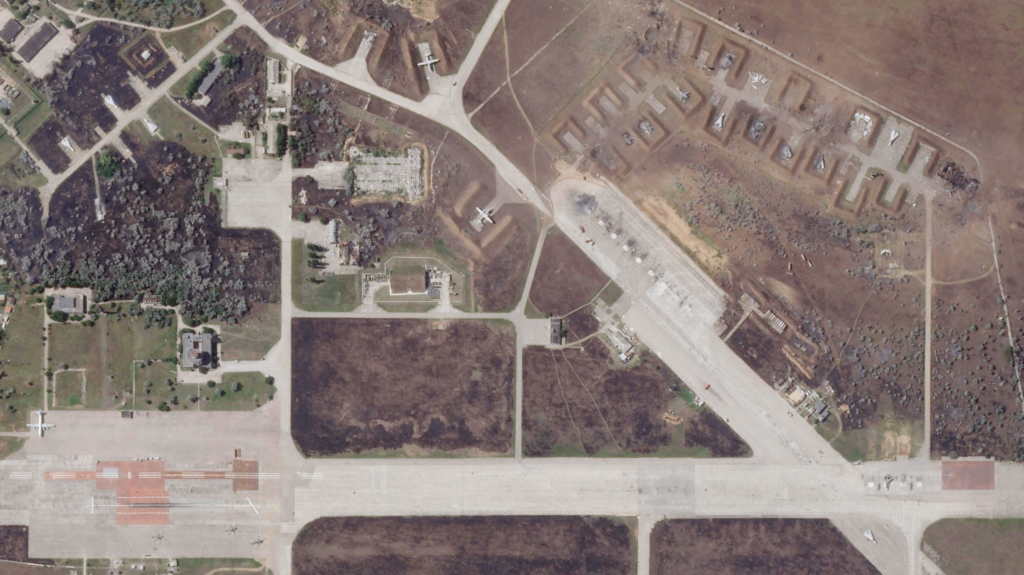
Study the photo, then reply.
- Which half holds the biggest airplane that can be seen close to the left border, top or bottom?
bottom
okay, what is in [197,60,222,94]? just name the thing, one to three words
building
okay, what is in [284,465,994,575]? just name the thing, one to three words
runway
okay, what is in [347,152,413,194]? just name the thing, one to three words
building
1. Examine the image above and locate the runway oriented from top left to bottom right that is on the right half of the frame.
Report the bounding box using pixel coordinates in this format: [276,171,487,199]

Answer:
[621,299,849,466]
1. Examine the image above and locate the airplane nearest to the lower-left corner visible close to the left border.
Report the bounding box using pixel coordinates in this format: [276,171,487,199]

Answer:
[25,413,54,438]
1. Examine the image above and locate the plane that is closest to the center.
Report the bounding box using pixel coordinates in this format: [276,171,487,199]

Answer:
[475,206,494,225]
